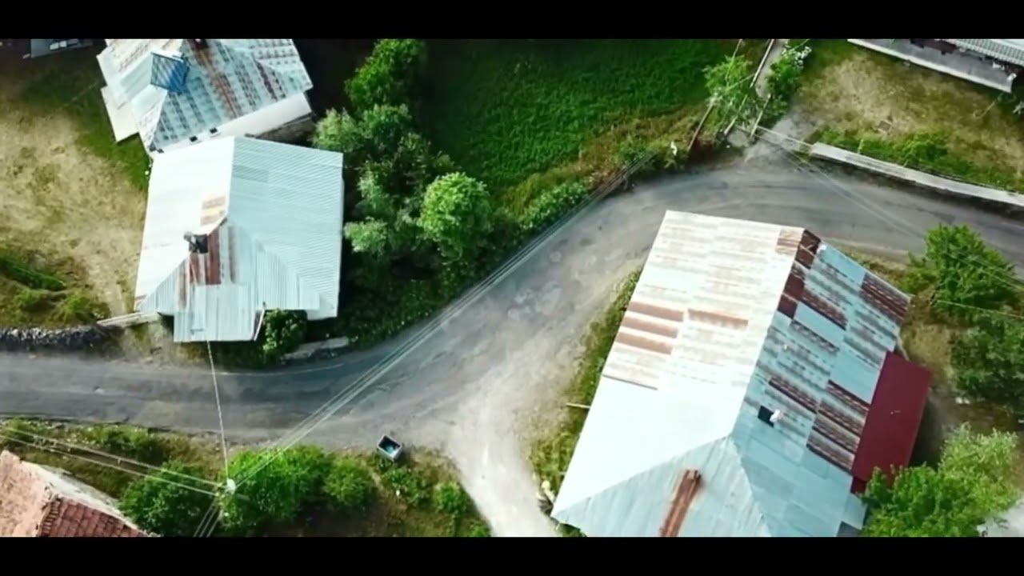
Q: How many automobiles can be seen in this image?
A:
0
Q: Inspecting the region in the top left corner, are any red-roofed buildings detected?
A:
No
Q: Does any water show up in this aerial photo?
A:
No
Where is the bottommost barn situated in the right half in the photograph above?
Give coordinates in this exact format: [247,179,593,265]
[552,210,931,576]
